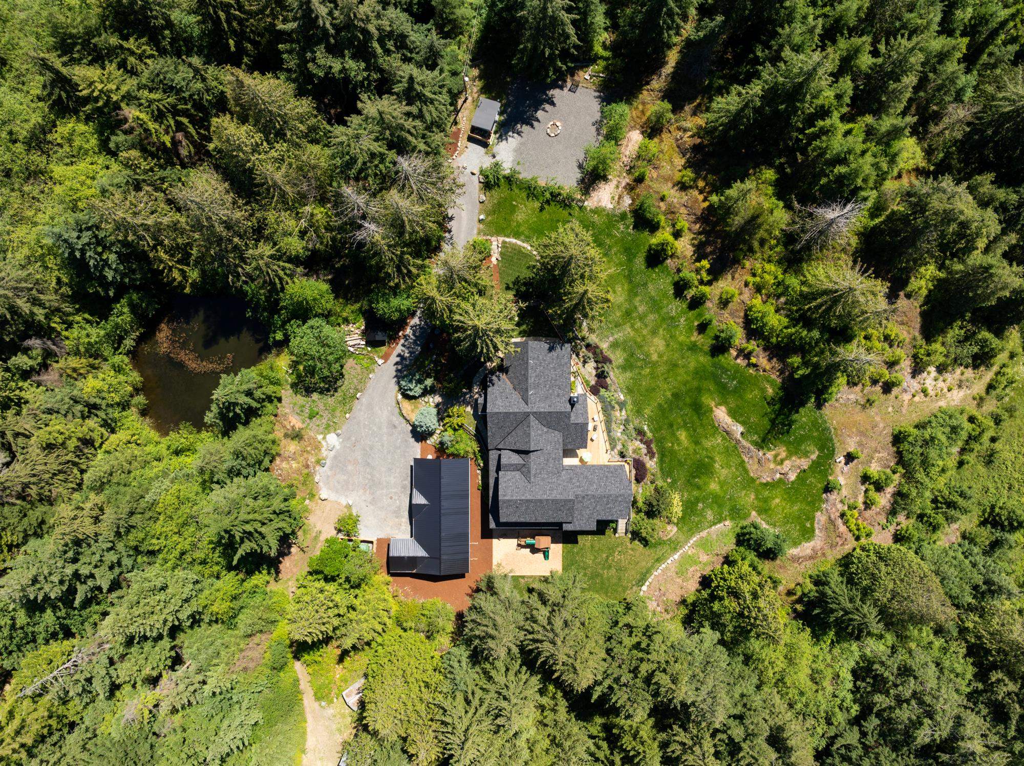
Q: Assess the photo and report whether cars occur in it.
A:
No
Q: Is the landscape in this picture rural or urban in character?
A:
rural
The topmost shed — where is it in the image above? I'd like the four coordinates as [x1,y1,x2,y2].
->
[469,97,502,148]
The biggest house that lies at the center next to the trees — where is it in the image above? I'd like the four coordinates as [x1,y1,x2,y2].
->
[478,341,632,531]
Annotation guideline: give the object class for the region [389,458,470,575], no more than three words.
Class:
building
